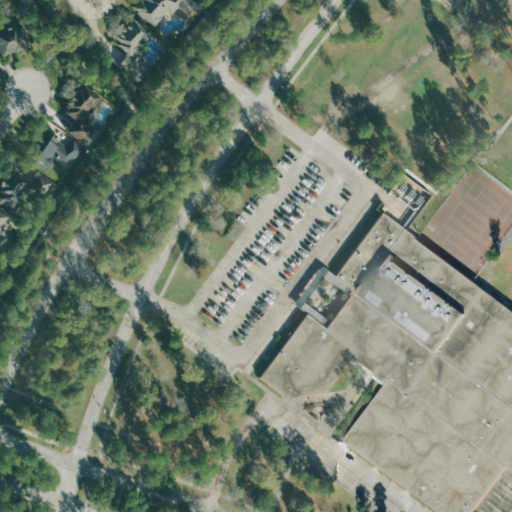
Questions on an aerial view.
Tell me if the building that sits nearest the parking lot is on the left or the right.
right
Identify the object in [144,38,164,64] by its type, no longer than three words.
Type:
swimming pool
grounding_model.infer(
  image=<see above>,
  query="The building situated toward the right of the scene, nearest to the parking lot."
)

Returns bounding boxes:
[260,212,512,512]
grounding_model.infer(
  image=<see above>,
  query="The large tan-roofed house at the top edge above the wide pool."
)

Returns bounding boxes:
[132,0,188,28]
